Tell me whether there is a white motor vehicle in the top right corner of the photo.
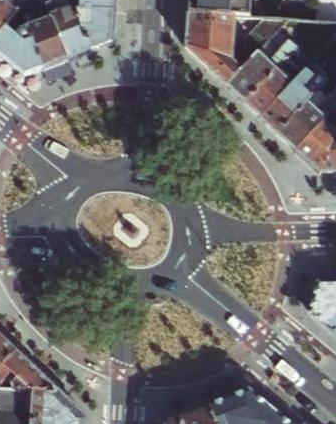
No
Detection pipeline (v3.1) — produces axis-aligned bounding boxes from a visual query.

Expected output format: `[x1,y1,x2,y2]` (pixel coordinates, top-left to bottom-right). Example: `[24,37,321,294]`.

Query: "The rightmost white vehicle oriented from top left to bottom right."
[276,360,304,386]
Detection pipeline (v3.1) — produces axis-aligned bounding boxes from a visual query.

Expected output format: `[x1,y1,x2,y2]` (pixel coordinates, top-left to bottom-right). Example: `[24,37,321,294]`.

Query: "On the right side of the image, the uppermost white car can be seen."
[228,315,250,335]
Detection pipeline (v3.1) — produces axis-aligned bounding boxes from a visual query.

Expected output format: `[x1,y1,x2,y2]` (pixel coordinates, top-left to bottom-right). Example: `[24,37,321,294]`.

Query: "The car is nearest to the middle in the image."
[152,276,176,290]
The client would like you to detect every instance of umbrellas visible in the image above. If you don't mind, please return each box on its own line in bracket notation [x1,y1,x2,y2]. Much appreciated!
[27,78,41,92]
[0,62,12,77]
[14,74,24,85]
